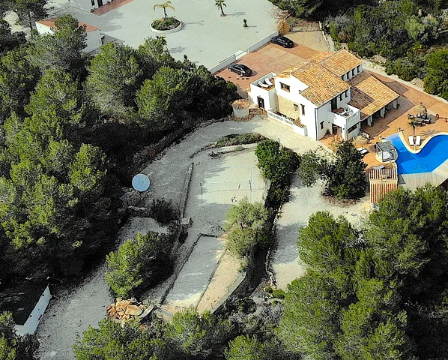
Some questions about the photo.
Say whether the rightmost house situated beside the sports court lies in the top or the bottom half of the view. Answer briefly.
top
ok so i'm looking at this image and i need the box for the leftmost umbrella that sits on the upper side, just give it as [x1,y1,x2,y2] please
[354,128,370,144]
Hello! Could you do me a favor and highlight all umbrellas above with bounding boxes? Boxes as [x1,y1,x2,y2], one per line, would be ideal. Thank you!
[413,101,430,117]
[354,128,370,144]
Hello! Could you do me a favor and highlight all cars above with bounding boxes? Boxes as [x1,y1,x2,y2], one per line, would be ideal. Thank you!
[226,61,251,77]
[270,34,295,48]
